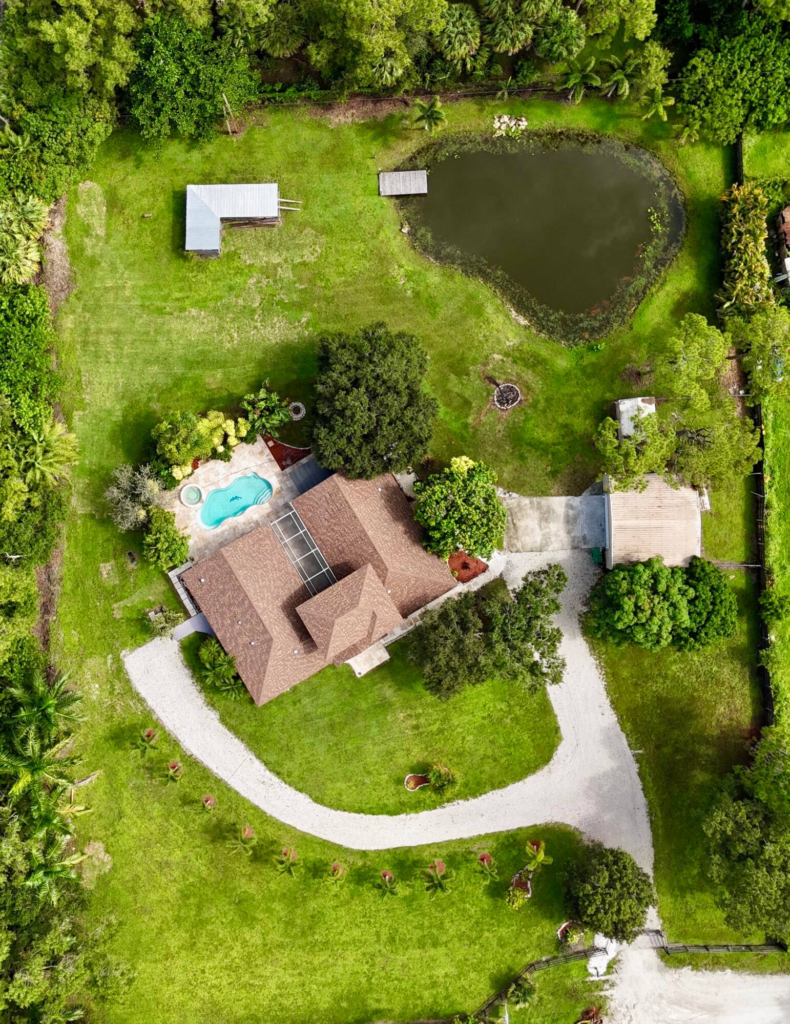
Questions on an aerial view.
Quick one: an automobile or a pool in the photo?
pool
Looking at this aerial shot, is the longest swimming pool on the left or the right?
left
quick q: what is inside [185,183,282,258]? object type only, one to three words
barn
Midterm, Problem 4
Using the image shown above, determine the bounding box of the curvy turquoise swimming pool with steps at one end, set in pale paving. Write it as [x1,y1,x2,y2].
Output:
[198,471,275,531]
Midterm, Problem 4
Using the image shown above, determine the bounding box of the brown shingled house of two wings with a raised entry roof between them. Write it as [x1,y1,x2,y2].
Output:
[181,454,457,707]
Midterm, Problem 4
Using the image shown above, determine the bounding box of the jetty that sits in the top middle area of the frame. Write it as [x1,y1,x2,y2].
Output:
[377,169,427,199]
